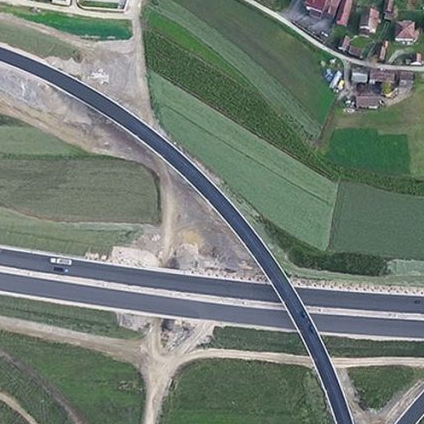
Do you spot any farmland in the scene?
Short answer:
Yes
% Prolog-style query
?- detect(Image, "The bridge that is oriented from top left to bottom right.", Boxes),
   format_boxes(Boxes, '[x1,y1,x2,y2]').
[110,107,355,424]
